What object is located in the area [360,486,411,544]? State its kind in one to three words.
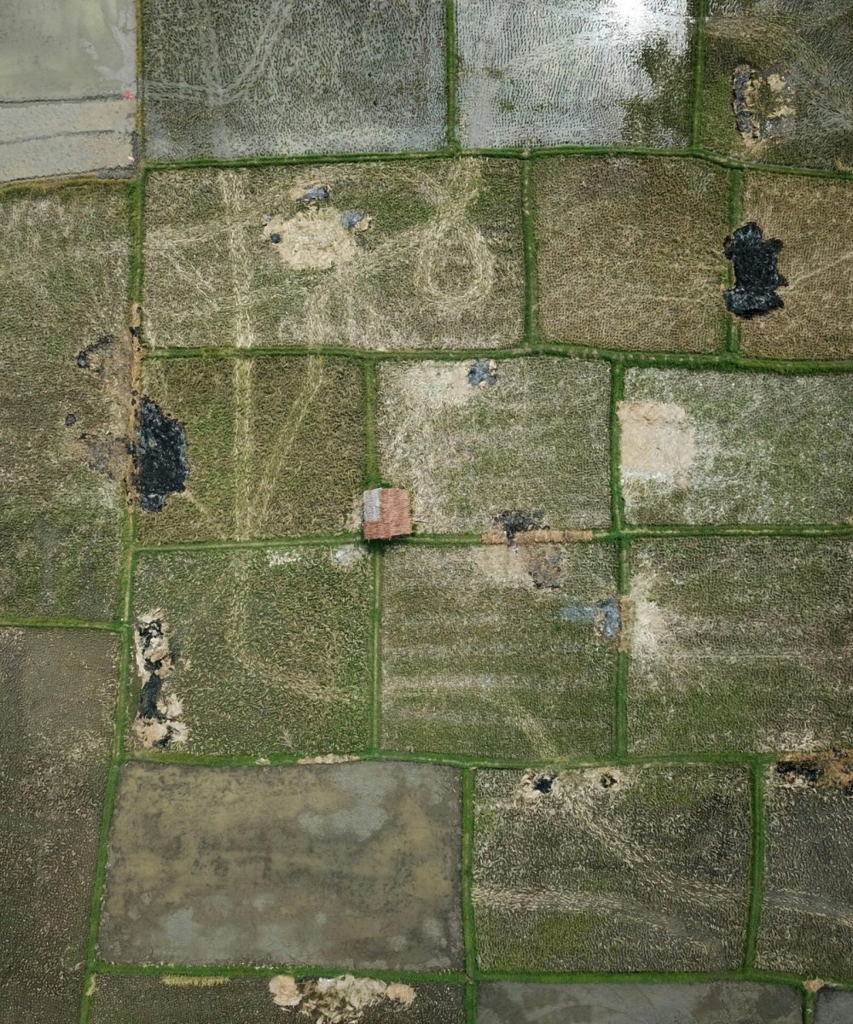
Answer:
shed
